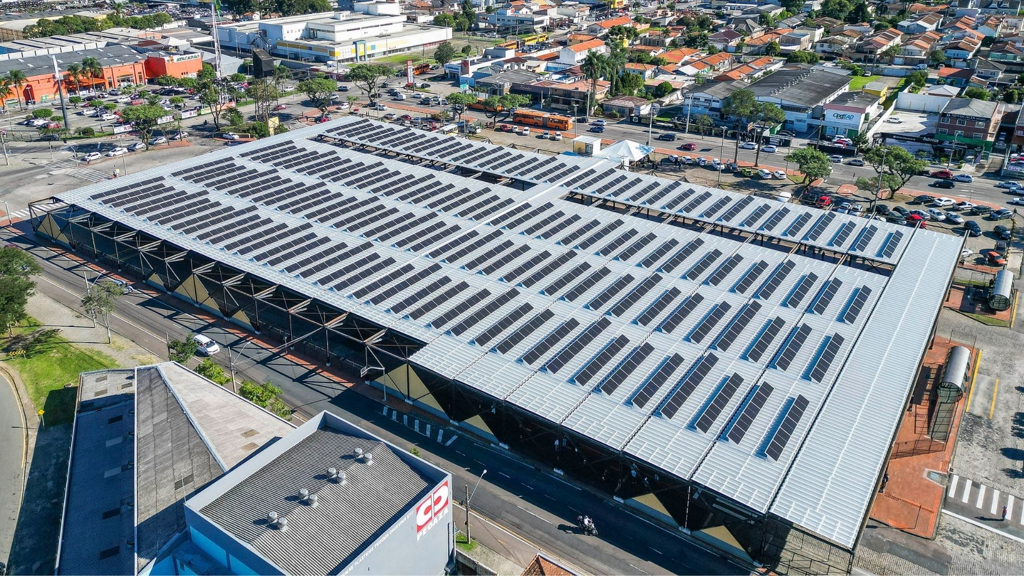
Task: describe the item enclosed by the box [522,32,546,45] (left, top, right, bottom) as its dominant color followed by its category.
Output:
yellow vehicle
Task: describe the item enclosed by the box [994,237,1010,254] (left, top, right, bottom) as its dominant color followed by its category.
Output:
black vehicle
